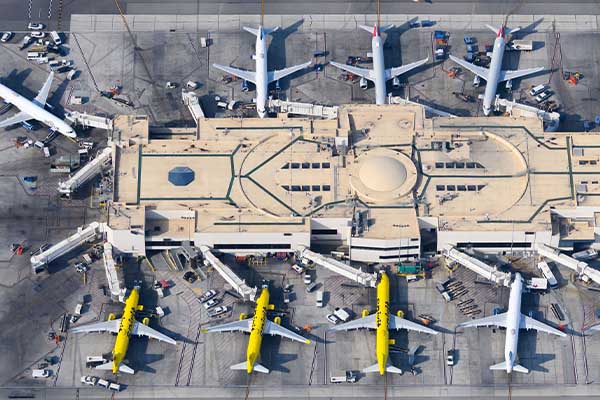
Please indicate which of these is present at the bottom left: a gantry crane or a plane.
plane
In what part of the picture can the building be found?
center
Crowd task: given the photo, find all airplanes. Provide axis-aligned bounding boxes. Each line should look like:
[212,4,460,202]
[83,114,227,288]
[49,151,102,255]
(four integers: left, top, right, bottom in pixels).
[458,273,568,374]
[0,71,76,137]
[326,272,434,375]
[447,16,547,116]
[69,288,176,375]
[212,16,312,118]
[327,17,430,104]
[203,286,309,374]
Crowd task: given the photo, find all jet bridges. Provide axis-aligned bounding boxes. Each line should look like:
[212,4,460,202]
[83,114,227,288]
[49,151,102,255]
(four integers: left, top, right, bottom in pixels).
[536,244,600,283]
[50,148,112,199]
[29,224,108,275]
[442,245,516,288]
[202,245,260,303]
[265,99,338,118]
[299,245,384,291]
[379,93,461,118]
[490,97,558,132]
[183,86,204,128]
[60,110,113,138]
[103,234,133,304]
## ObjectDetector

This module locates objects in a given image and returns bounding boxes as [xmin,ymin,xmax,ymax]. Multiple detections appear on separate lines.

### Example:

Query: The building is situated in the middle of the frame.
[107,104,600,262]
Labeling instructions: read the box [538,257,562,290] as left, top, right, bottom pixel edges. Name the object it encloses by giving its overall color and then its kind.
white bus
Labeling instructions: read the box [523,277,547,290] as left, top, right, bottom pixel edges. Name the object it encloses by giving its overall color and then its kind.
white vehicle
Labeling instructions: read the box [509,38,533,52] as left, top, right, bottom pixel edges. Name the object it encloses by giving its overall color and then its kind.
white vehicle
